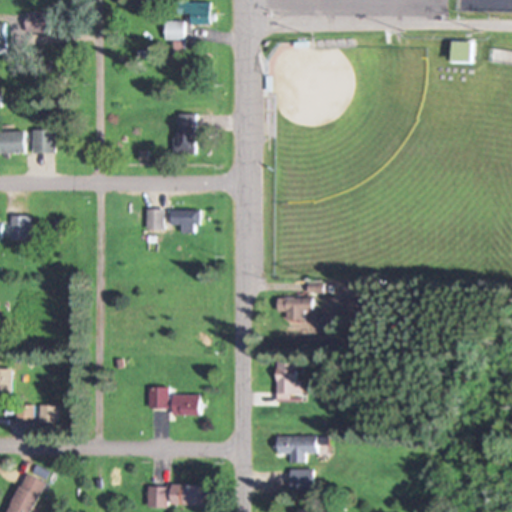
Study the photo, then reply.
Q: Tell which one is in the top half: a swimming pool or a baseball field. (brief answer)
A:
baseball field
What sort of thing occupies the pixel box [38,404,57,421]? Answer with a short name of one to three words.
shed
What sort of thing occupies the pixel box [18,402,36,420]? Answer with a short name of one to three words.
shed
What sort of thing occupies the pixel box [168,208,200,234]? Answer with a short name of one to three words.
house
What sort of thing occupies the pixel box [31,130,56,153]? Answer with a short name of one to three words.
building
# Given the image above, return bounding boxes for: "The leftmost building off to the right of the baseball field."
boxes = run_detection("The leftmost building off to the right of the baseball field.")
[450,40,474,64]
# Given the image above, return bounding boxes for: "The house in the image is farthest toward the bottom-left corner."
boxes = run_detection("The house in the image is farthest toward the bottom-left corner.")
[6,474,48,512]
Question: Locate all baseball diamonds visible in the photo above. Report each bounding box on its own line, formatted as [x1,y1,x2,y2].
[268,42,428,202]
